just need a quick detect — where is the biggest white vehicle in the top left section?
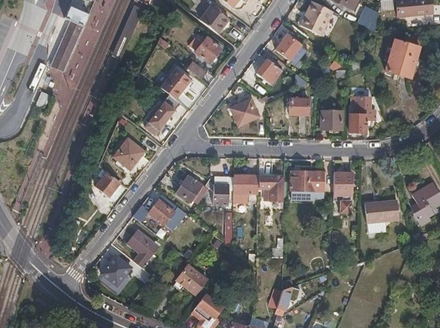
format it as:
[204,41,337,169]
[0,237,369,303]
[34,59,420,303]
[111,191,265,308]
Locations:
[28,62,46,90]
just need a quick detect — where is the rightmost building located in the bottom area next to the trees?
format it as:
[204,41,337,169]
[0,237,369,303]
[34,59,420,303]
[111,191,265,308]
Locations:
[409,182,440,222]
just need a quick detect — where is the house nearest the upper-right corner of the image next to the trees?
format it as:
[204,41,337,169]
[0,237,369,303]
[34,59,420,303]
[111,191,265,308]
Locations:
[394,0,440,18]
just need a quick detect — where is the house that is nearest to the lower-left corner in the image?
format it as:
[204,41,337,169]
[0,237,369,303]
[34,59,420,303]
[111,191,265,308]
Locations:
[96,247,133,290]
